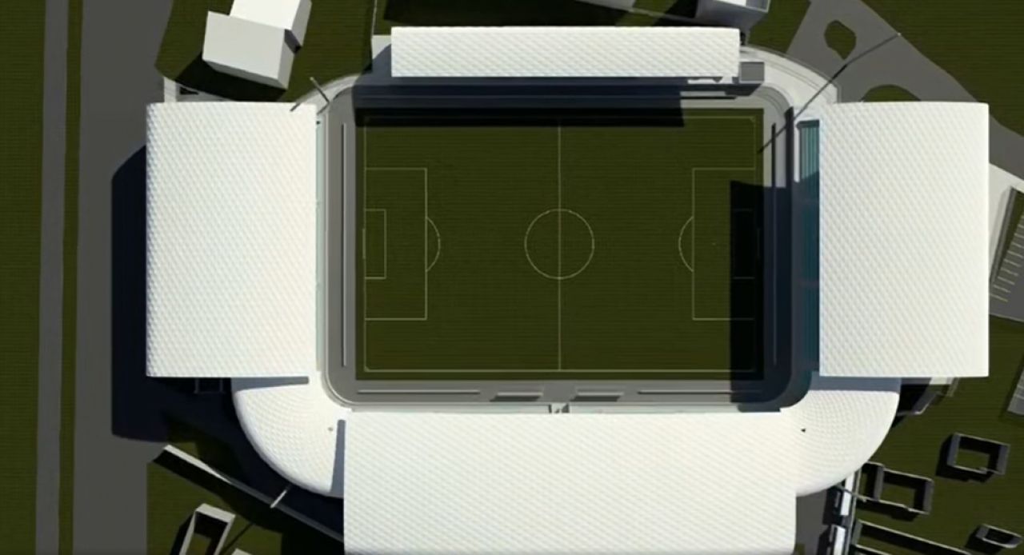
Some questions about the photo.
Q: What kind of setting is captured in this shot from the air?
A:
sports ground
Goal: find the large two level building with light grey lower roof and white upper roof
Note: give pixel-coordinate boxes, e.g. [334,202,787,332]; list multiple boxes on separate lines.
[202,0,317,89]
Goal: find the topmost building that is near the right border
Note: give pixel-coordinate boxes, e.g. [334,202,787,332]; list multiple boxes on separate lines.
[947,434,1010,475]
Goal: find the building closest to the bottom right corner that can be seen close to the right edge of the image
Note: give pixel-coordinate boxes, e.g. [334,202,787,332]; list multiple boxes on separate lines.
[974,524,1021,548]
